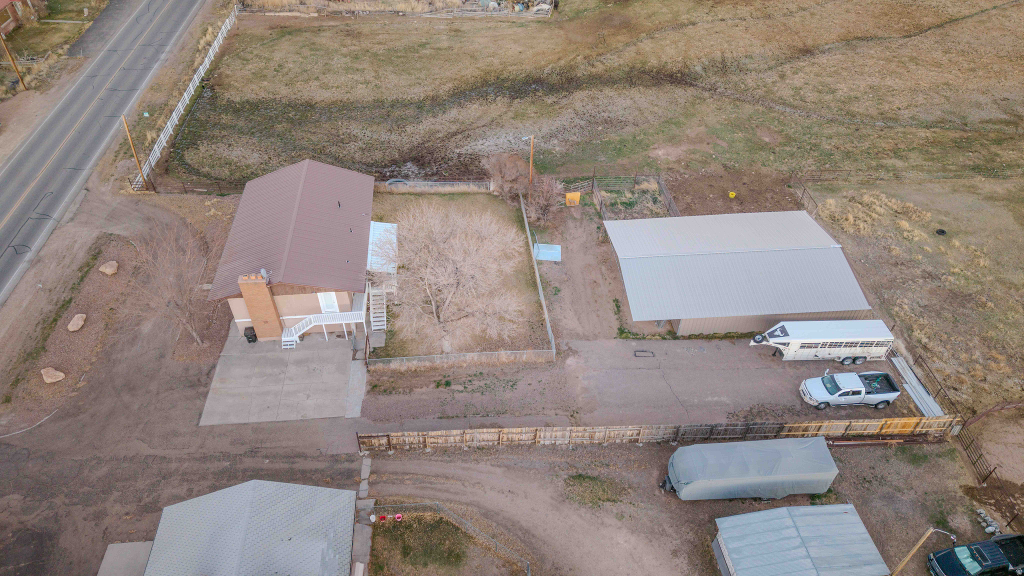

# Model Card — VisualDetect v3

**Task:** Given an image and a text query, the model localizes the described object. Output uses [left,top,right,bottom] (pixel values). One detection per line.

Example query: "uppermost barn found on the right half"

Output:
[604,212,872,338]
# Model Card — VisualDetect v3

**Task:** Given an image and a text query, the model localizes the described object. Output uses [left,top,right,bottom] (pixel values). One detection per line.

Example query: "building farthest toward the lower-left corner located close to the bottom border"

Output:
[141,480,359,576]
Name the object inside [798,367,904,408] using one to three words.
truck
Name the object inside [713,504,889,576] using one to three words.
shed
